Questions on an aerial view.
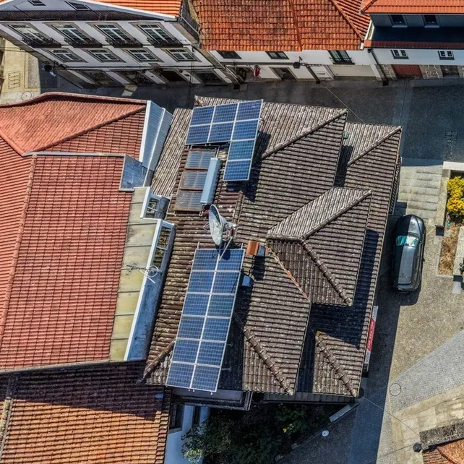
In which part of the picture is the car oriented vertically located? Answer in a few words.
right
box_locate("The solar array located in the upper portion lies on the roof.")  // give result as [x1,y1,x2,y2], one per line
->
[185,100,268,184]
